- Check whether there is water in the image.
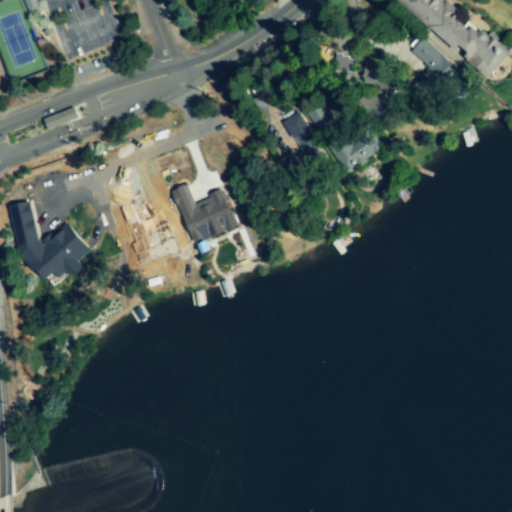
Yes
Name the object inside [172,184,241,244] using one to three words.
house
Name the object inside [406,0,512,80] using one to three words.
house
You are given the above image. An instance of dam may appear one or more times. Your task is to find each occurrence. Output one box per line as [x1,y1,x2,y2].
[13,448,164,512]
